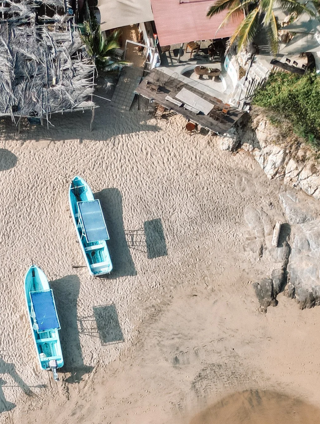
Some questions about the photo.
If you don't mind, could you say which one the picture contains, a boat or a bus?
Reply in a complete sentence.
The image shows a boat.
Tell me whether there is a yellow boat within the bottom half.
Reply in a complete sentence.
No, looking within the bottom half, there is no yellow boat.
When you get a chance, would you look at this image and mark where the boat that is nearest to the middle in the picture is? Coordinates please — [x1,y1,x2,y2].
[72,177,113,279]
